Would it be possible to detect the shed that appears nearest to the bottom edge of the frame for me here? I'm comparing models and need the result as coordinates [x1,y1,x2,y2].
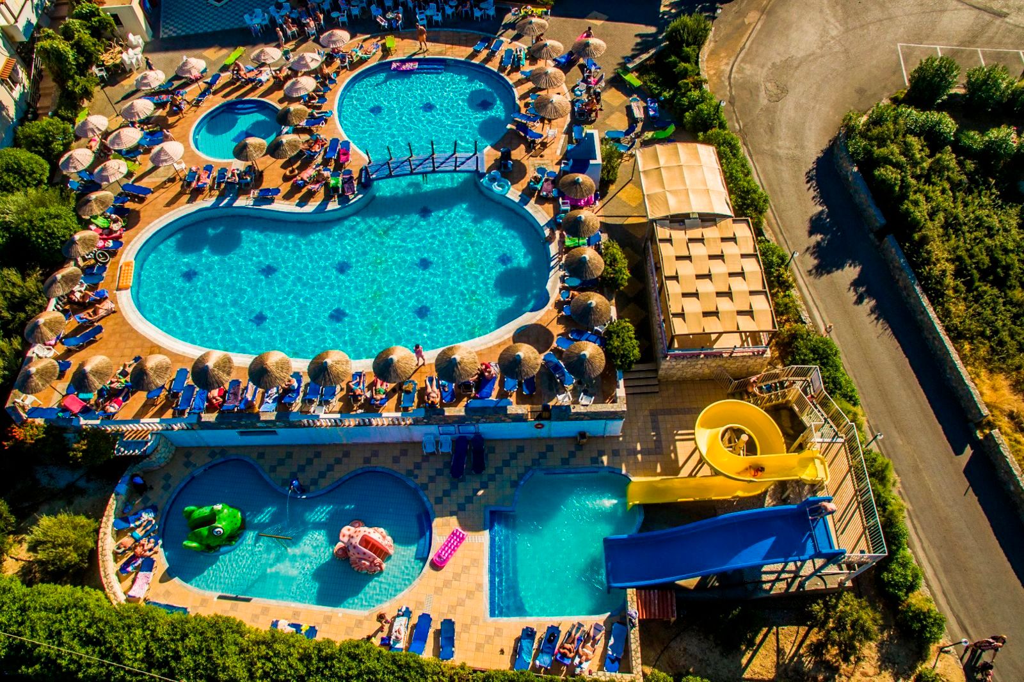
[636,589,675,624]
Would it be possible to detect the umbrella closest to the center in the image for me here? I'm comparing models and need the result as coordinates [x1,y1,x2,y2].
[501,345,539,385]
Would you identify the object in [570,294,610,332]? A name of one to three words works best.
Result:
umbrella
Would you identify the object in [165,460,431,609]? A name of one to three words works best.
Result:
swimming pool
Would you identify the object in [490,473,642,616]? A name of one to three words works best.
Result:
swimming pool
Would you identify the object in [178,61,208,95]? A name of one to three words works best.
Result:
umbrella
